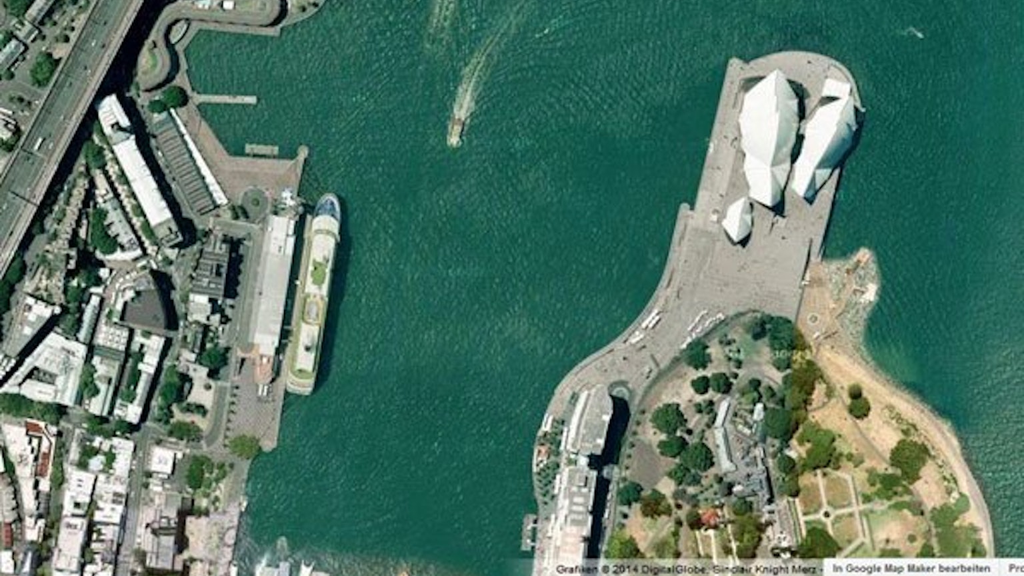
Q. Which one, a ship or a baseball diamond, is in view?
ship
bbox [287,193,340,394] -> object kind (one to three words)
ship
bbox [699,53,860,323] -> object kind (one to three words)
building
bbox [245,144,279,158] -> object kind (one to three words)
pier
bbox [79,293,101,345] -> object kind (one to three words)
house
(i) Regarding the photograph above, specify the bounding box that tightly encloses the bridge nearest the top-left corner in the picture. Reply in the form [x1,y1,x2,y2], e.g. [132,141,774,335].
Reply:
[0,0,143,276]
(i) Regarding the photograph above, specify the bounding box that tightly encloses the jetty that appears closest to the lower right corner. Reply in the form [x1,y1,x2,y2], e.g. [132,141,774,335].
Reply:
[521,514,540,551]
